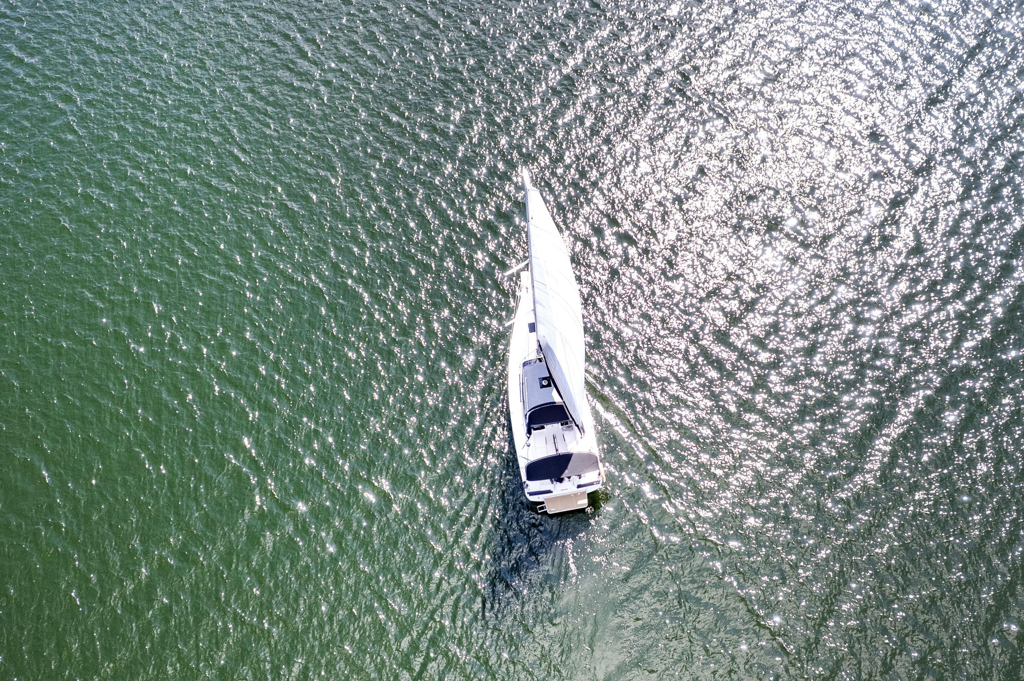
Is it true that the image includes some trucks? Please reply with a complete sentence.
No, the picture doesn't show any truck.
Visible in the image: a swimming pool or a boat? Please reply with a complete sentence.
The image shows a boat.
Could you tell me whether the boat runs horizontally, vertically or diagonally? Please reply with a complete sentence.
In this picture, the boat lies vertically.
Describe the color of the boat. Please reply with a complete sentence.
The boat is white.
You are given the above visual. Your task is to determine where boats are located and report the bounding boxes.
[503,159,602,514]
